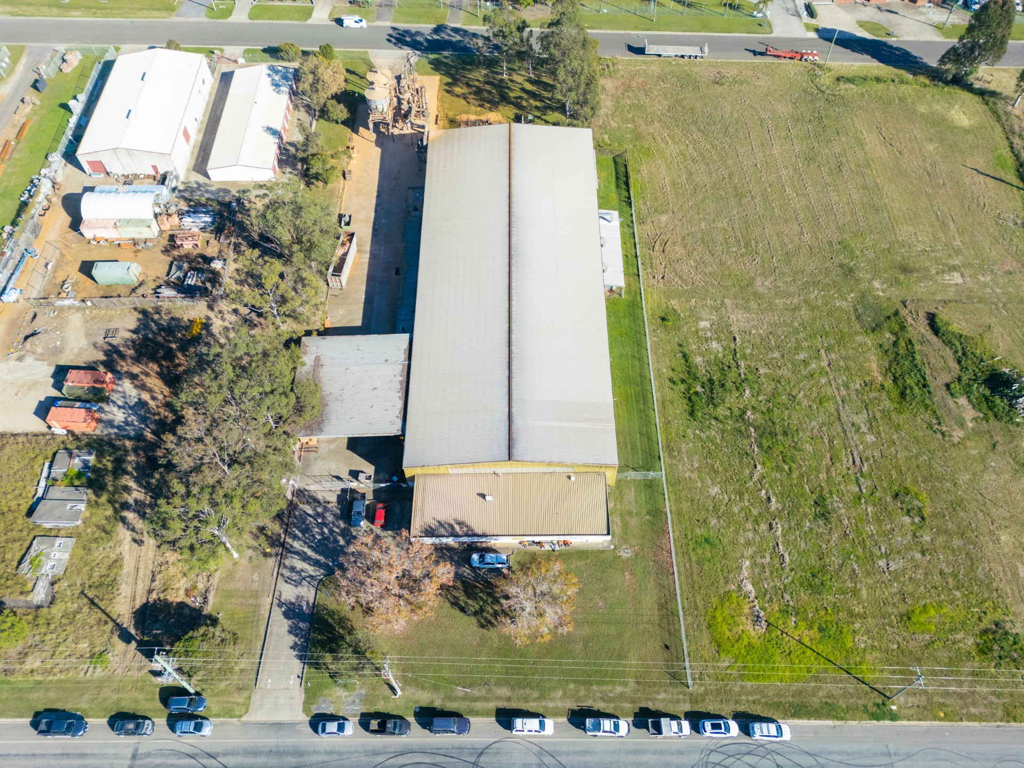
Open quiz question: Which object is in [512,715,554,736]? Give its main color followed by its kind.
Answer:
white truck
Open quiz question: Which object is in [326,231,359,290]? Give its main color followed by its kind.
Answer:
white trailer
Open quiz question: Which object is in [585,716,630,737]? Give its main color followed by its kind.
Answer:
white truck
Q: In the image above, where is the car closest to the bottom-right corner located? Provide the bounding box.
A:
[748,719,791,740]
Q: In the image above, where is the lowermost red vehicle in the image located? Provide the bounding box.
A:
[373,503,390,531]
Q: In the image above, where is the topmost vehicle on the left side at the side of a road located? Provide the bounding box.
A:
[341,15,367,29]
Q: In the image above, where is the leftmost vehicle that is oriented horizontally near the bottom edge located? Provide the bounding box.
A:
[33,714,90,736]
